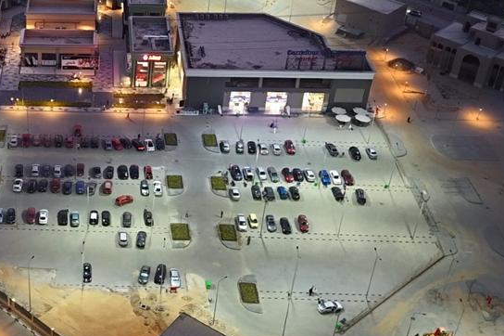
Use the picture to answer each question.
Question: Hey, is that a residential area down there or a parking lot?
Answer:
parking lot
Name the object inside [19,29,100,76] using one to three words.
building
